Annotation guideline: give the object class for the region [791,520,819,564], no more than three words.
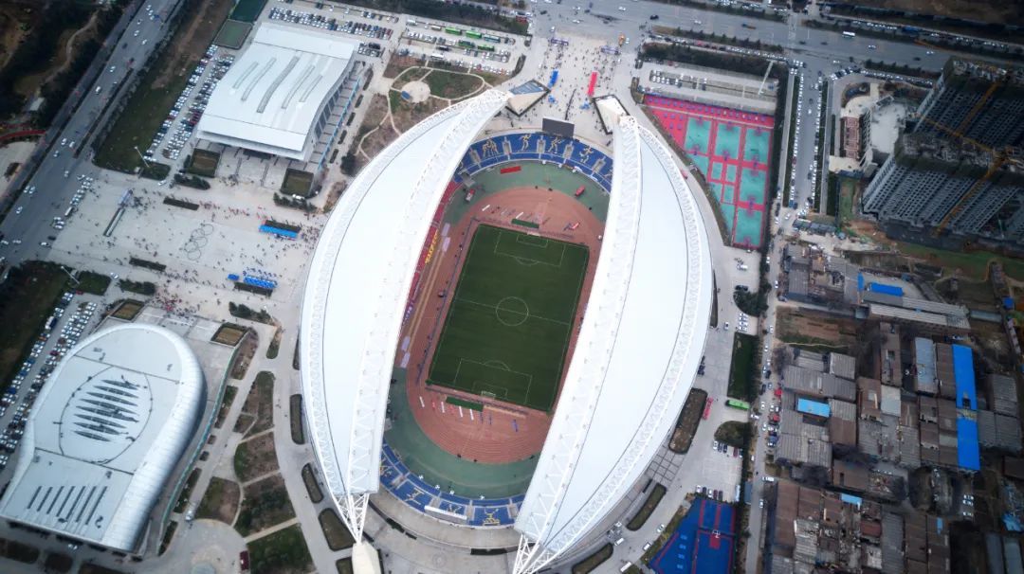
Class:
house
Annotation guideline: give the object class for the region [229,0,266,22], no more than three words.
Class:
tennis court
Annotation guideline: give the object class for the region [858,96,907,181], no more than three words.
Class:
building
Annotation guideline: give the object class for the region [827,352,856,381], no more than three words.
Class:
house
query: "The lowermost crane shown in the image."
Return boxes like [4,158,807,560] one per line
[917,116,1024,233]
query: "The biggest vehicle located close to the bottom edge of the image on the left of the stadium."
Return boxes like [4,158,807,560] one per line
[235,546,251,573]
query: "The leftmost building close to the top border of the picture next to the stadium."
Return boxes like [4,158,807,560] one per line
[197,23,364,173]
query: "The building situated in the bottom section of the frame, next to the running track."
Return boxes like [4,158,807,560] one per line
[0,305,250,562]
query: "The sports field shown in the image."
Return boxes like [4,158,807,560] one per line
[426,222,590,413]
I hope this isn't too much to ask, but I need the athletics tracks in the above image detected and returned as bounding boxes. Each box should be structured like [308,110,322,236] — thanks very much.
[385,160,610,506]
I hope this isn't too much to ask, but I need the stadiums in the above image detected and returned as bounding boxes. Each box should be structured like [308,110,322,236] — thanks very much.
[299,78,713,574]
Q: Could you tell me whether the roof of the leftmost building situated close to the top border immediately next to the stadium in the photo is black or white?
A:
white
